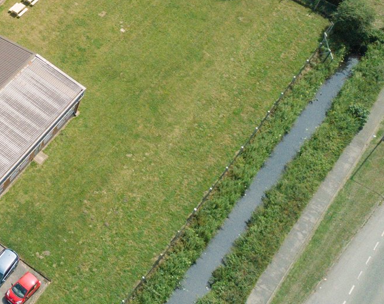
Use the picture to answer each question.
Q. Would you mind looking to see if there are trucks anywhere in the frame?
No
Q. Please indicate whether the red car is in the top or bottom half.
bottom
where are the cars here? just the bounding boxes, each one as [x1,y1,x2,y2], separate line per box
[0,248,21,291]
[6,269,43,304]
